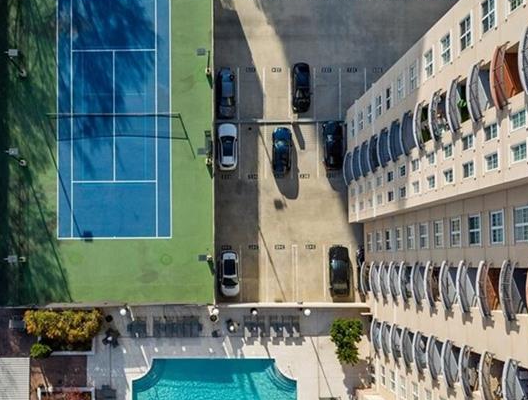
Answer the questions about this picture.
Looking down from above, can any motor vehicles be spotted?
Yes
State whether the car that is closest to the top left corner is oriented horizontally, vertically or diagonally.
vertically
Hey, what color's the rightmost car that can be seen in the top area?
black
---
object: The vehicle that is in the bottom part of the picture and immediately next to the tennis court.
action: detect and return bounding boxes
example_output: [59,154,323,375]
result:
[218,249,241,298]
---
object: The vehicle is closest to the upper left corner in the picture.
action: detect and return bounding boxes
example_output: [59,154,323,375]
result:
[216,69,237,118]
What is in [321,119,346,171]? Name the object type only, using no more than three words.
car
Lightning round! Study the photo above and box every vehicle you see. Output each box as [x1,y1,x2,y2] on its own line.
[321,119,346,171]
[270,126,293,175]
[216,123,238,172]
[328,245,353,299]
[216,69,237,118]
[218,249,241,298]
[290,61,313,114]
